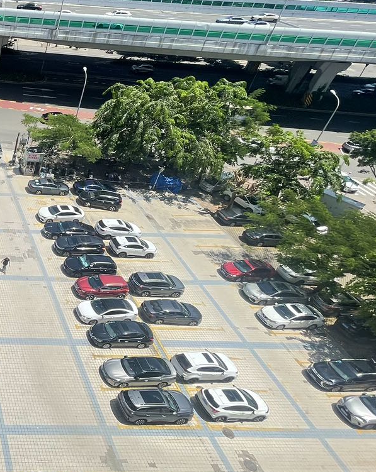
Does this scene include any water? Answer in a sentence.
No, the scene doesn't show any water.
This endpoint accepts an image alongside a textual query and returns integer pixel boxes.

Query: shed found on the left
[20,147,44,175]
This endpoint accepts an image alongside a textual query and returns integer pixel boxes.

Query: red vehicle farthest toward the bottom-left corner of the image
[74,274,132,301]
